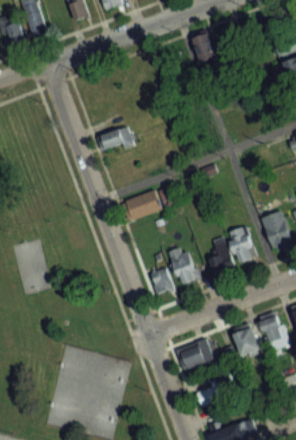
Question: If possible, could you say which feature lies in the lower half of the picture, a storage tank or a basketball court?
basketball court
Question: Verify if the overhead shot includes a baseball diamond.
No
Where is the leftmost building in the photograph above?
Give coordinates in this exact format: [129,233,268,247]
[0,15,24,41]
